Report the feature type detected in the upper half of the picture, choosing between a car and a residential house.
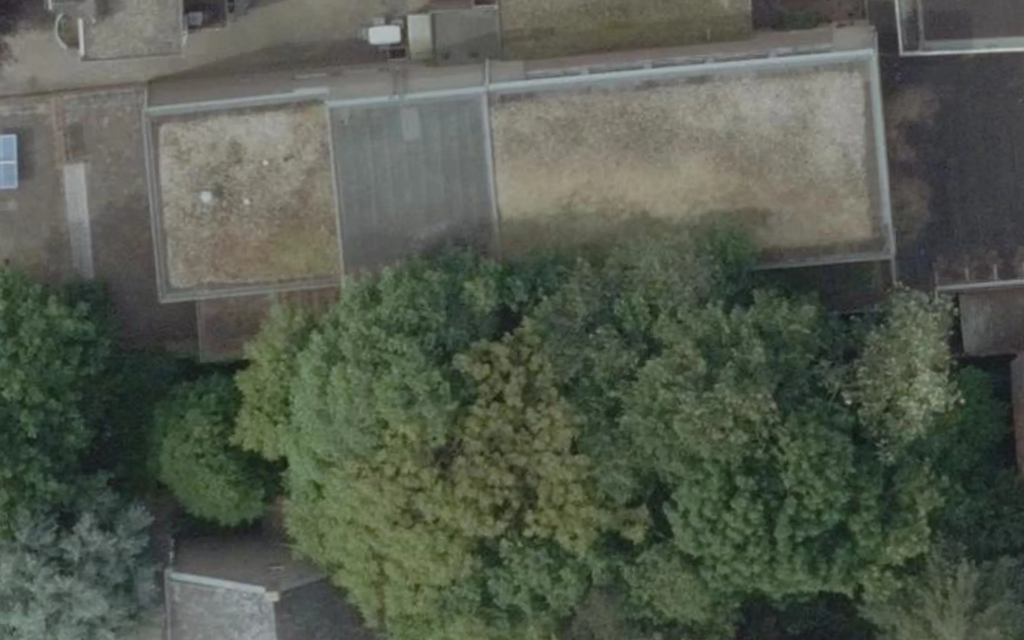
residential house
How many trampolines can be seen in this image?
0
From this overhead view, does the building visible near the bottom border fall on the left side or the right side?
left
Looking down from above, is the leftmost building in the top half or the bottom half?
top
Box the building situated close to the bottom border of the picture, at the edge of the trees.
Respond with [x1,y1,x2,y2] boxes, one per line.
[165,562,279,640]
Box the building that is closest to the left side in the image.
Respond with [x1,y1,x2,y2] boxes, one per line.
[74,0,186,58]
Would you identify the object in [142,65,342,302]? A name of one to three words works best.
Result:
house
